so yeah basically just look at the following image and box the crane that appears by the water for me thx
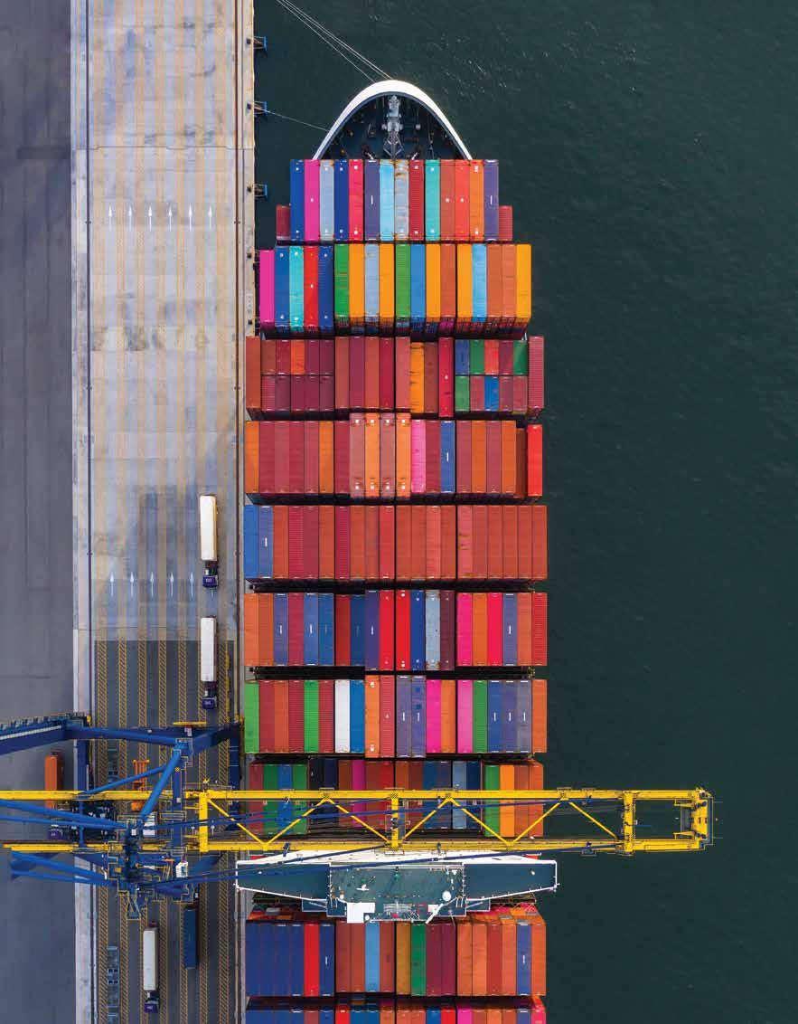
[0,700,717,917]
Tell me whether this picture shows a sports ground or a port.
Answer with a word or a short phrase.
port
